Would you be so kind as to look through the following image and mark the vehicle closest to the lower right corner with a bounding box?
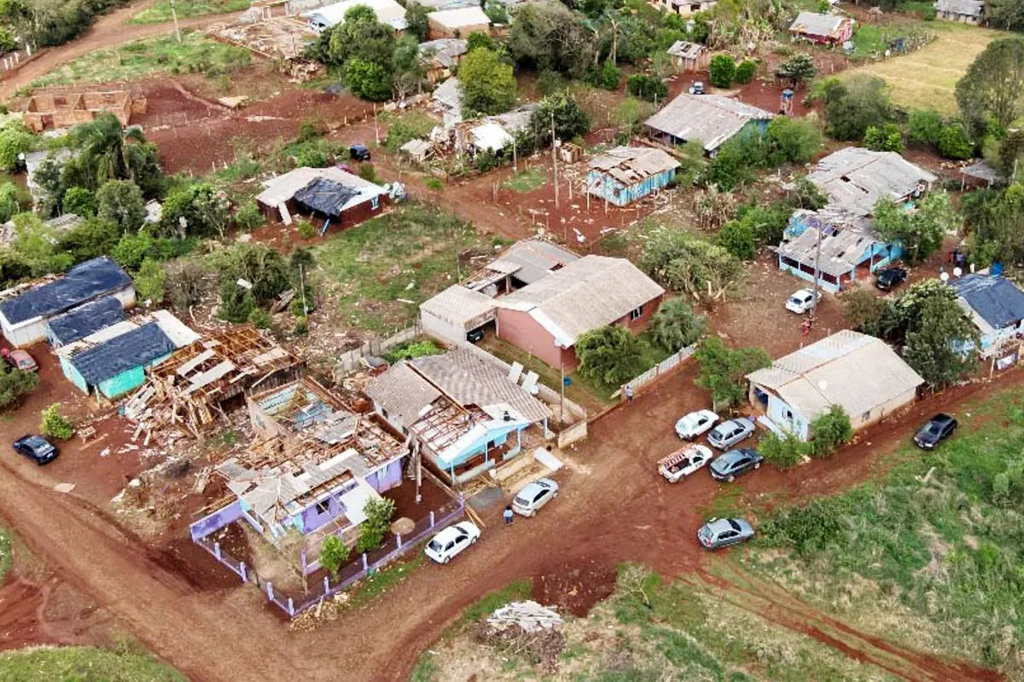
[911,410,964,450]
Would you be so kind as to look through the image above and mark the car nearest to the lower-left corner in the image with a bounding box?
[6,430,64,464]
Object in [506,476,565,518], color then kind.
white car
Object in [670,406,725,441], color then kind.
white car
